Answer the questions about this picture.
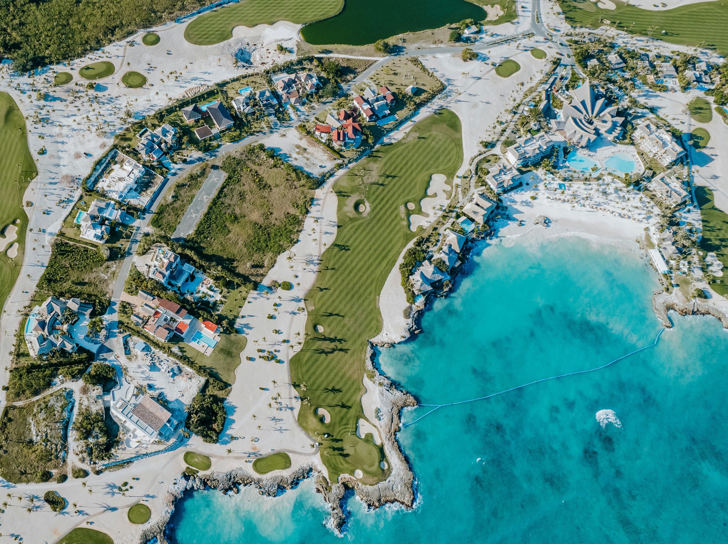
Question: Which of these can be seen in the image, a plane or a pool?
pool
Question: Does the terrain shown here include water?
Yes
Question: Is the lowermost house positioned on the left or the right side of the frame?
left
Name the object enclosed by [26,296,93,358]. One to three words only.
house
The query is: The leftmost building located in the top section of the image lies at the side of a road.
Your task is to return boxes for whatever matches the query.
[97,159,147,204]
